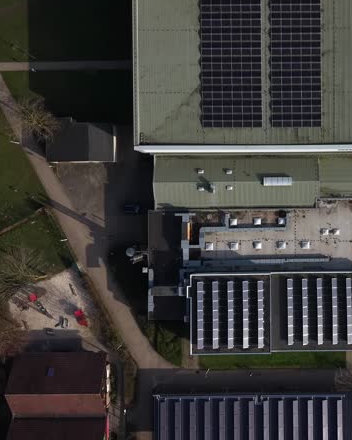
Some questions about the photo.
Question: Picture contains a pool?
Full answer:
No, there's no pool here.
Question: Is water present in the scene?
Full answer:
No, there is no water in the image.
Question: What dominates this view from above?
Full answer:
The scene is dominated by buildings.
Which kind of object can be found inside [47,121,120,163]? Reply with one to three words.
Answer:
building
